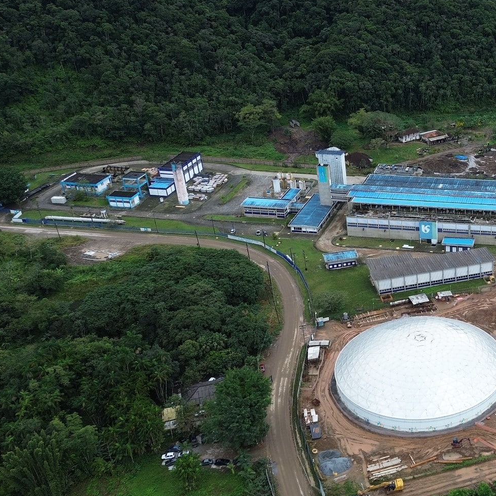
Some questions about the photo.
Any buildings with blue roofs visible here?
Yes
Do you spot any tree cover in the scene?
Yes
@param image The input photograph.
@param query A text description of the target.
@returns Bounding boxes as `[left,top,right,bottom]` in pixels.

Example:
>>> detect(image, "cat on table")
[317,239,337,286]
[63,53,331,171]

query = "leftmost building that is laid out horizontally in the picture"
[60,172,112,195]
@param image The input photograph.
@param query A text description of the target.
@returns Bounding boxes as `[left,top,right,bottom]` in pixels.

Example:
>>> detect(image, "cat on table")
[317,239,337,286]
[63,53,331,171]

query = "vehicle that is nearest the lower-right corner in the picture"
[450,434,474,449]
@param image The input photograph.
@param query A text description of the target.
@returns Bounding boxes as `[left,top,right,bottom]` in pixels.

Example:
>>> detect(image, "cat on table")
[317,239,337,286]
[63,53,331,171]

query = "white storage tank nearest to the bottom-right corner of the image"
[334,314,496,430]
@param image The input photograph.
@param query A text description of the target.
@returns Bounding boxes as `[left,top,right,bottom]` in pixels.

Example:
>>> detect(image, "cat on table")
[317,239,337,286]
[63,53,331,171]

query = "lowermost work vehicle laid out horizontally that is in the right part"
[354,477,405,495]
